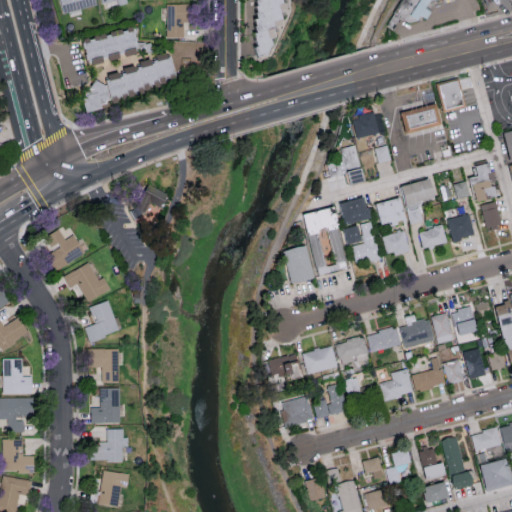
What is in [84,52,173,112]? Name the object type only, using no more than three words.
building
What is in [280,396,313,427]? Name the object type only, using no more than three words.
house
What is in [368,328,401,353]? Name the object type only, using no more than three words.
house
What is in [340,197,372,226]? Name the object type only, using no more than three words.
building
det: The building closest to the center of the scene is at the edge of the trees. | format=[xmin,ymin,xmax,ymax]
[284,247,315,284]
